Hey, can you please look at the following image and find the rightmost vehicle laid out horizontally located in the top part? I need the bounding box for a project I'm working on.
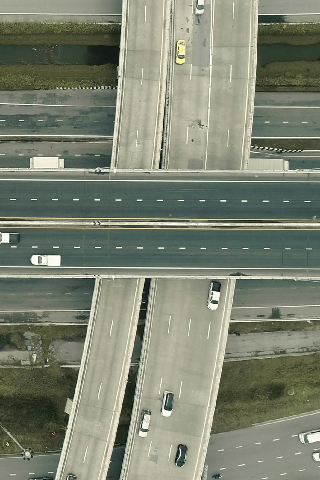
[248,157,289,172]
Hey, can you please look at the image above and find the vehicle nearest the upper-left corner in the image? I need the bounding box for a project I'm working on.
[29,156,64,168]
